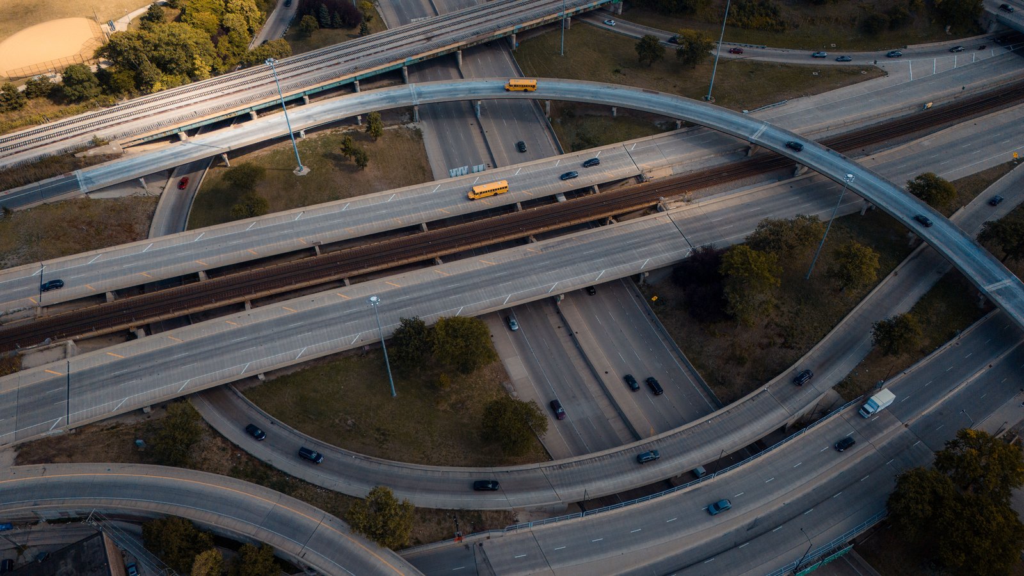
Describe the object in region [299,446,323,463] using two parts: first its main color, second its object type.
black car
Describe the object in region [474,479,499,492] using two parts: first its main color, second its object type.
black vehicle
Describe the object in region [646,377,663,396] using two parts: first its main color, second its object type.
black car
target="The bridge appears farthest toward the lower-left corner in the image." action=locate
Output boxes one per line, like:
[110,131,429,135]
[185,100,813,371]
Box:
[0,467,426,576]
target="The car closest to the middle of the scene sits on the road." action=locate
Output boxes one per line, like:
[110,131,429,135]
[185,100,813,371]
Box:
[505,314,518,331]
